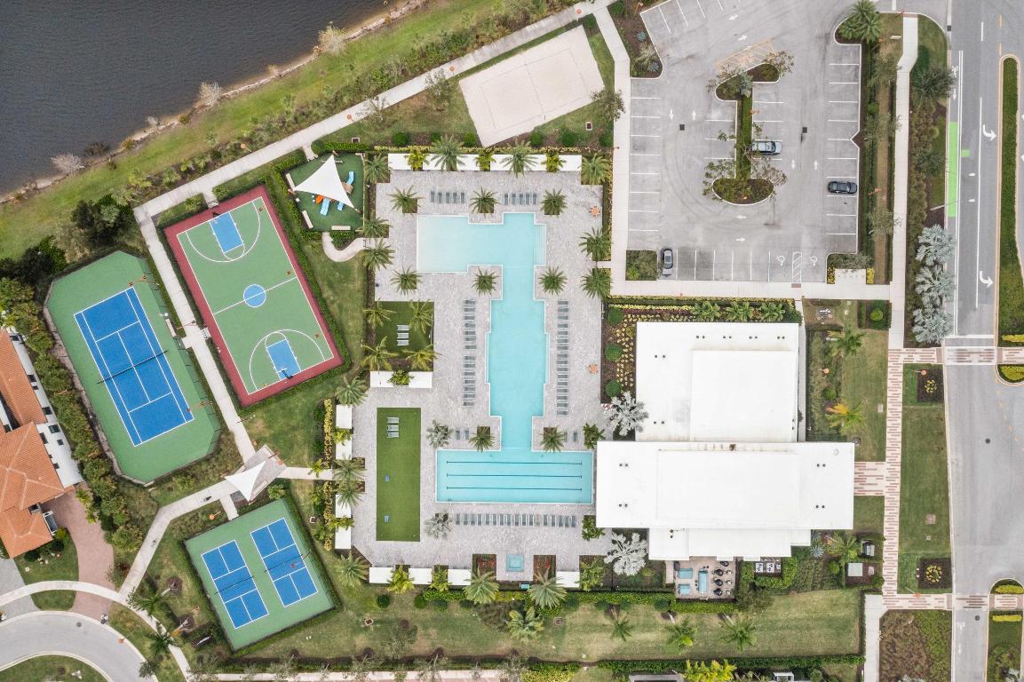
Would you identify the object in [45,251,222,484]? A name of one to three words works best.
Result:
tennis court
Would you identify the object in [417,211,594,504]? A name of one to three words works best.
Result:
swimming pool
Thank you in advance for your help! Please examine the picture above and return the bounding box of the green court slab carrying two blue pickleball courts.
[185,500,334,652]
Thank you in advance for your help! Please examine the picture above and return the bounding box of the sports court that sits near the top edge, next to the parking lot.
[460,25,603,147]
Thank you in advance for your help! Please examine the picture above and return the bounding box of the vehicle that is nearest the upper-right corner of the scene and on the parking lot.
[825,181,856,194]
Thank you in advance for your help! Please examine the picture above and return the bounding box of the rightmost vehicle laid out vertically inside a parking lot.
[660,248,674,277]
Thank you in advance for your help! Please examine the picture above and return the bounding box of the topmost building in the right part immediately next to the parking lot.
[596,322,855,561]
